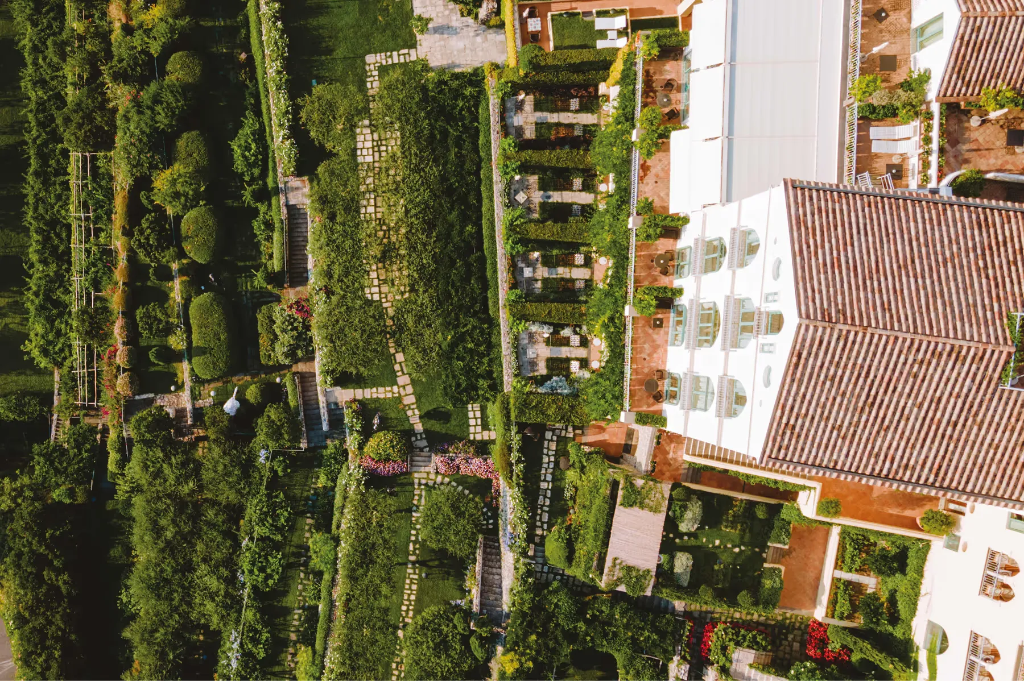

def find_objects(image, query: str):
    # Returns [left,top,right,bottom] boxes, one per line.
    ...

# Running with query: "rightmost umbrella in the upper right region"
[970,104,1021,128]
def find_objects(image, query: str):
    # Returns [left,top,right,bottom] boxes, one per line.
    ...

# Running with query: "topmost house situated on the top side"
[912,0,1024,103]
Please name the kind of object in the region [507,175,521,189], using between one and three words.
umbrella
